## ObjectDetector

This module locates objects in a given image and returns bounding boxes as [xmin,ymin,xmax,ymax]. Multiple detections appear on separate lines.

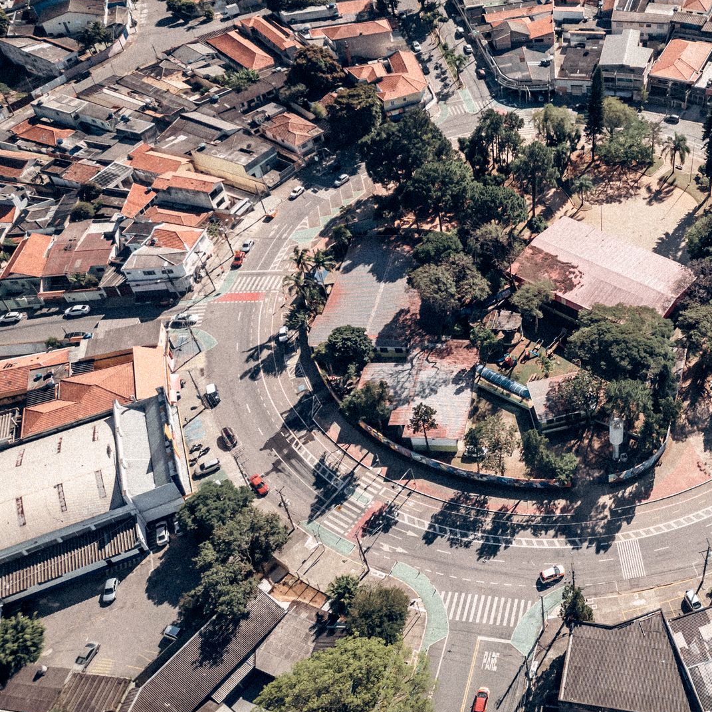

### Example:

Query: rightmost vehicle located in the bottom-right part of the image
[681,579,706,614]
